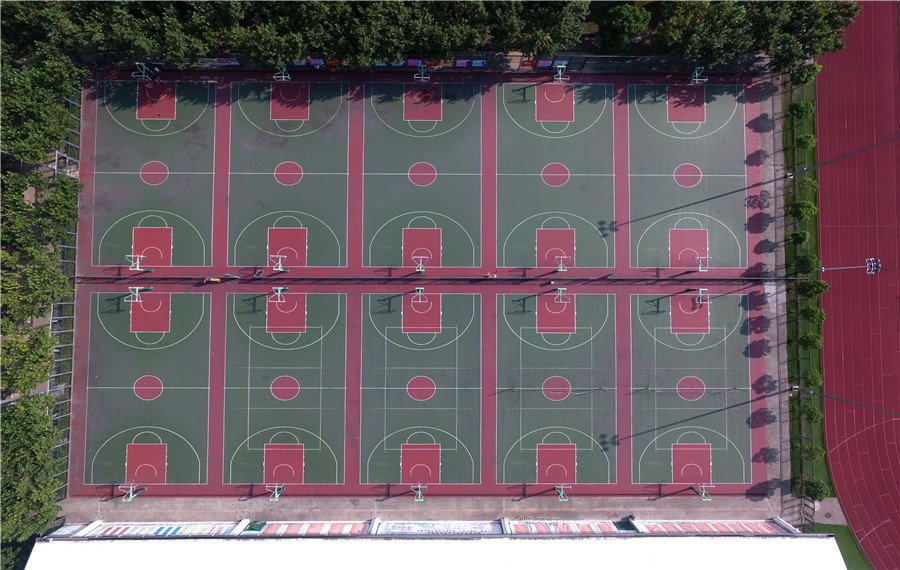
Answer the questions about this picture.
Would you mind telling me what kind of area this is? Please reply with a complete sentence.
The picture captures a sports ground.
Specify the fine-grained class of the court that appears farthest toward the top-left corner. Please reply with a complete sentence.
It turns out the court that appears farthest toward the top-left corner is a basketball court.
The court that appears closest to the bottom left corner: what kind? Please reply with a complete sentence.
Looking closely, the court that appears closest to the bottom left corner is a basketball court.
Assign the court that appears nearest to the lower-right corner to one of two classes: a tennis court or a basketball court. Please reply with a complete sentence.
The court that appears nearest to the lower-right corner is a basketball court.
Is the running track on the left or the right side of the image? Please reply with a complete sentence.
The running track is on the right side of the image.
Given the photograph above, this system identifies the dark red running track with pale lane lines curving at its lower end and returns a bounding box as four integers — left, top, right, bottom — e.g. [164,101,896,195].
[814,0,900,570]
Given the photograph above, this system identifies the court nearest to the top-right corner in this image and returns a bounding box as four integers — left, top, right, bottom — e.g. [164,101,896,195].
[627,84,748,268]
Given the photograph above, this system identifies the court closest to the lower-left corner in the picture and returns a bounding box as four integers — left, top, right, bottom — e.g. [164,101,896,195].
[84,292,212,484]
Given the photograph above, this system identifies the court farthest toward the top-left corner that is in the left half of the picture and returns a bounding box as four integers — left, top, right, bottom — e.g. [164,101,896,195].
[91,80,216,266]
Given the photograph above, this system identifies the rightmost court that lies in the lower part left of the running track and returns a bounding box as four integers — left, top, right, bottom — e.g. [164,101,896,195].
[630,294,752,484]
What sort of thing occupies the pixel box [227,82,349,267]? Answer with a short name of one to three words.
basketball court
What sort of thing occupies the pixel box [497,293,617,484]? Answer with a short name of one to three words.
basketball court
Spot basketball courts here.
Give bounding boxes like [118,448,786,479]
[362,83,482,267]
[497,293,617,484]
[91,80,216,266]
[496,83,616,268]
[630,294,752,484]
[227,82,349,267]
[627,84,748,268]
[359,293,482,484]
[222,292,347,484]
[84,292,212,484]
